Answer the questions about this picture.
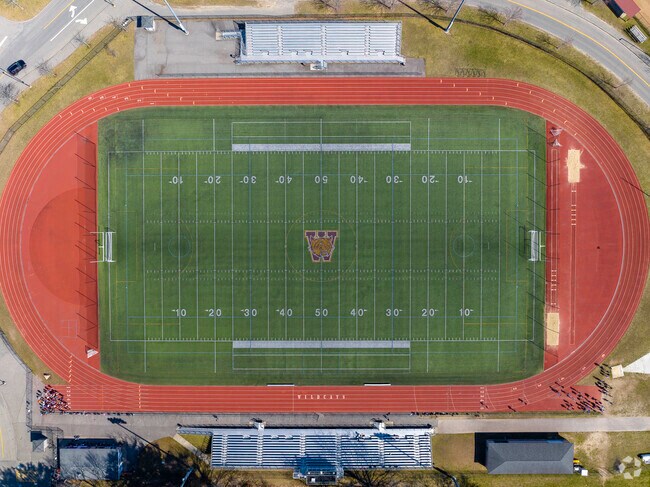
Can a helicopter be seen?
No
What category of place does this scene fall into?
sports ground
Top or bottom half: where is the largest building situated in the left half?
bottom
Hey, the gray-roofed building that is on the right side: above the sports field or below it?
below it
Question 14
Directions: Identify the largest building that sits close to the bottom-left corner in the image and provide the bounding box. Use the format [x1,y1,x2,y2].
[59,444,125,479]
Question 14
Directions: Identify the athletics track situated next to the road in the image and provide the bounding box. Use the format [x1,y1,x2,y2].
[0,79,649,413]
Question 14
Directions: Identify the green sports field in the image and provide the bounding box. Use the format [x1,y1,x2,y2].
[98,105,546,386]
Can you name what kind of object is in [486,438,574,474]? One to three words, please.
building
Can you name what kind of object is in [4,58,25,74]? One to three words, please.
car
